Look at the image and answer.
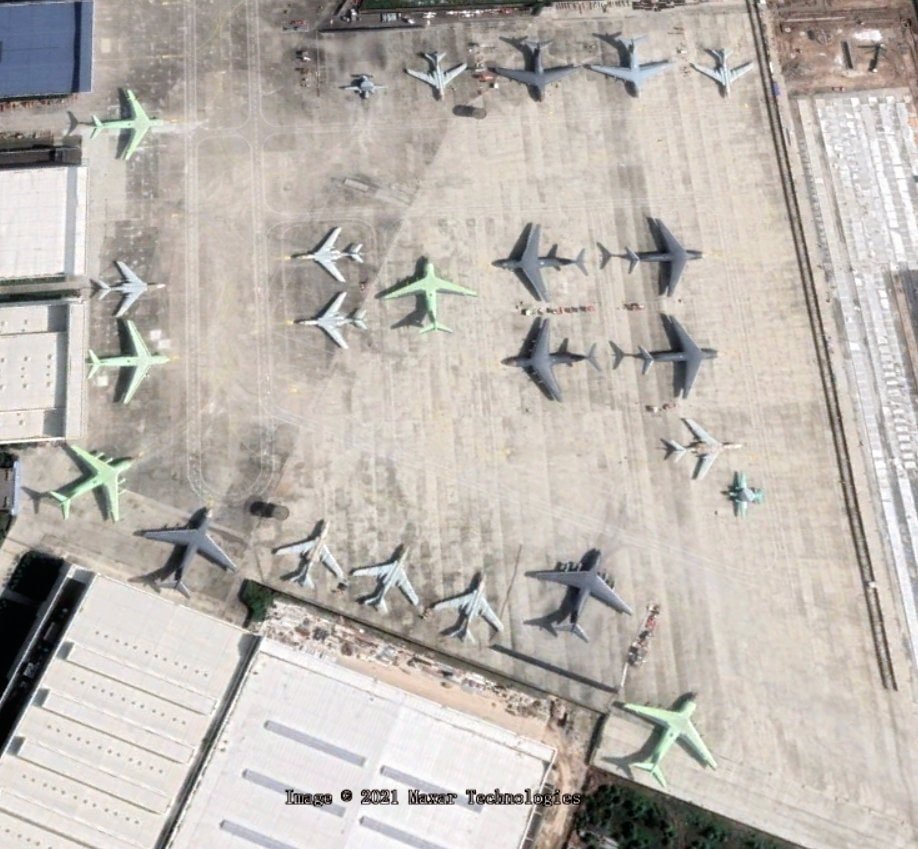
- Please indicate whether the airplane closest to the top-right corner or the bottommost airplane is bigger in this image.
the bottommost airplane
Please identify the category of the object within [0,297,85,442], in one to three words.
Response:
hangar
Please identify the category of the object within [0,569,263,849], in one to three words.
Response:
building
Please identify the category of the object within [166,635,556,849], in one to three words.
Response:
building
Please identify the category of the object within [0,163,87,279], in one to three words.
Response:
hangar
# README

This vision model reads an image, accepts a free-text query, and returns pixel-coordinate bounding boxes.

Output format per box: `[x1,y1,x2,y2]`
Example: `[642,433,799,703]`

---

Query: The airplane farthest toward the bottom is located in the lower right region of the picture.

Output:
[624,698,717,790]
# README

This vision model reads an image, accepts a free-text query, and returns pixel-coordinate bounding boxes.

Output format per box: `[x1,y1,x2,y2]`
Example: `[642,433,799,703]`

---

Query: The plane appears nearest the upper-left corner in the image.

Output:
[90,90,167,159]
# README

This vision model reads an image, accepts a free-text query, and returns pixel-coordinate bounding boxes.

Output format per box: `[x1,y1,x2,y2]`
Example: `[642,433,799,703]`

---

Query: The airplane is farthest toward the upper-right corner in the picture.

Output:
[693,48,753,98]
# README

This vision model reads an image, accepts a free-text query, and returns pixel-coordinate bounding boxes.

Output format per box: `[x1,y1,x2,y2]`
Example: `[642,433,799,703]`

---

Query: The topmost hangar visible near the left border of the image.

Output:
[0,0,93,99]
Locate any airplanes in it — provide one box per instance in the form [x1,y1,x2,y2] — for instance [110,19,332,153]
[495,38,580,99]
[143,512,236,600]
[693,48,753,98]
[296,228,364,282]
[637,316,721,398]
[534,554,632,644]
[299,292,368,348]
[275,522,343,589]
[508,318,602,401]
[48,446,134,523]
[671,419,742,480]
[90,90,167,159]
[590,34,676,94]
[351,547,418,614]
[433,574,504,645]
[624,219,705,296]
[730,473,766,518]
[383,260,477,334]
[407,51,466,100]
[624,698,717,790]
[85,320,170,403]
[344,74,388,97]
[498,224,590,301]
[95,262,164,316]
